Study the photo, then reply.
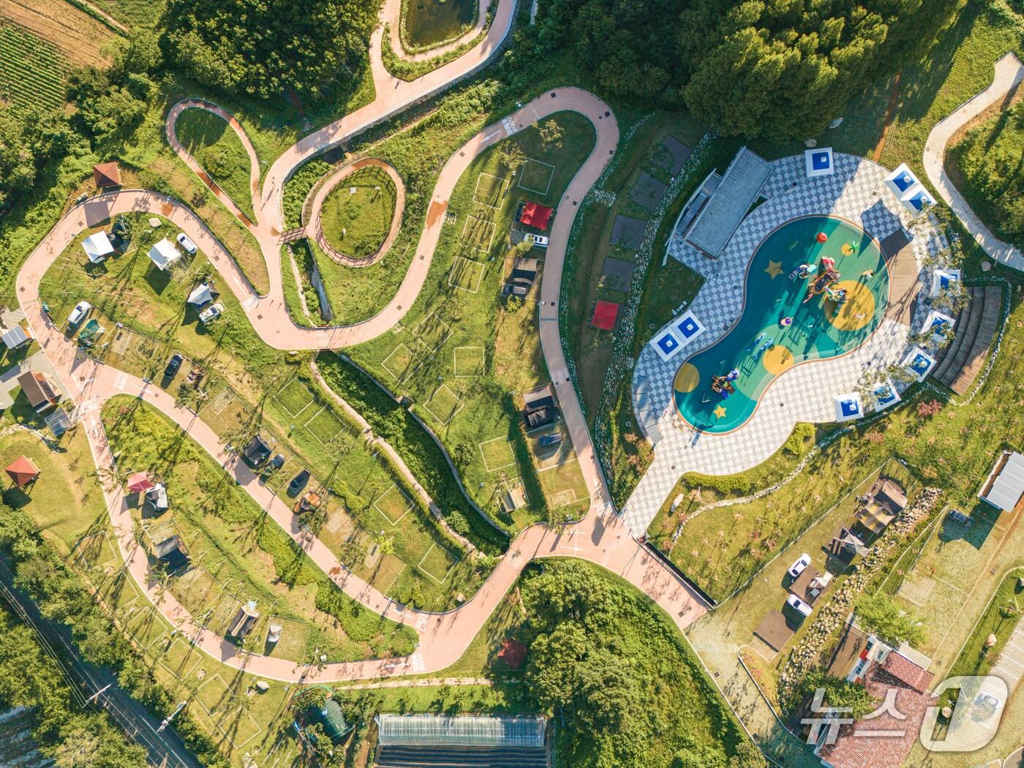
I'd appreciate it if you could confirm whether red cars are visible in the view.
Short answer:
No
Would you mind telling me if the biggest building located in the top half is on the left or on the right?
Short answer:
right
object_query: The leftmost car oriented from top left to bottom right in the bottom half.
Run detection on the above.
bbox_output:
[786,593,813,618]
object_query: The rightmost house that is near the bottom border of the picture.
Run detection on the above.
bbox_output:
[815,633,939,768]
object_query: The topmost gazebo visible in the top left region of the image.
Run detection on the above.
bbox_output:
[96,163,129,192]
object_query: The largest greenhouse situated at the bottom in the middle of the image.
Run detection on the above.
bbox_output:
[376,713,546,745]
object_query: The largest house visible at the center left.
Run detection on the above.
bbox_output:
[18,370,68,414]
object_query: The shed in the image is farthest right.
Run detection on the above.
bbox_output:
[973,449,1024,513]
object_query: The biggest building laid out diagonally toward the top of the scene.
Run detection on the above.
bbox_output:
[682,150,774,258]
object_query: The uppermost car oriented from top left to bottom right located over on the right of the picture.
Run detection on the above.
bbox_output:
[944,507,970,529]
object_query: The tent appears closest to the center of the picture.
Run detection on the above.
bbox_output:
[523,386,560,427]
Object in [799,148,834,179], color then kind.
blue umbrella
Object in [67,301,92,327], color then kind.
white car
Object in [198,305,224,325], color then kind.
white car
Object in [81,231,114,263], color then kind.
white tent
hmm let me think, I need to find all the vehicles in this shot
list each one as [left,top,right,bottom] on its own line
[198,305,224,325]
[287,468,311,495]
[67,301,92,327]
[537,432,563,447]
[786,593,813,618]
[524,233,548,246]
[163,353,185,379]
[787,552,810,578]
[944,507,970,529]
[178,232,199,256]
[265,450,287,473]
